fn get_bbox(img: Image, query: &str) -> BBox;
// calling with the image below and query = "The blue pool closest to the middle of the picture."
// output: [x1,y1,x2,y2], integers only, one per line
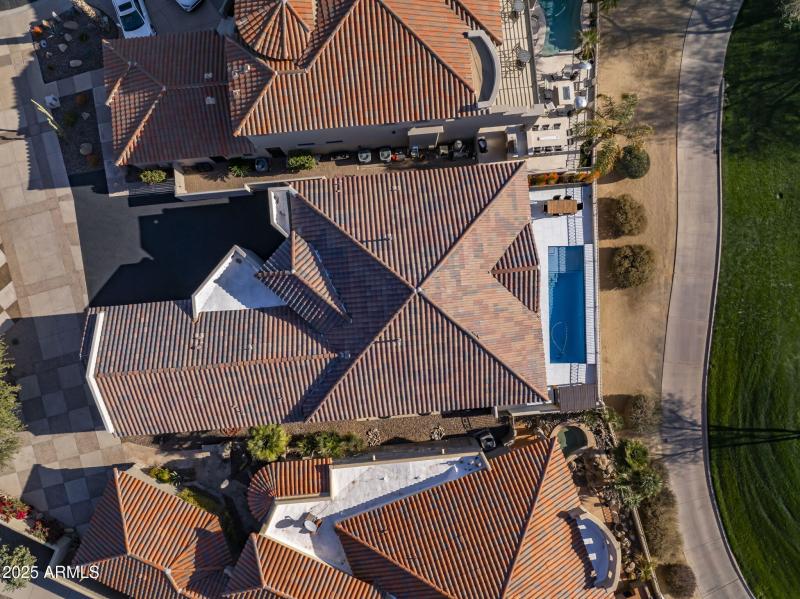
[545,245,598,369]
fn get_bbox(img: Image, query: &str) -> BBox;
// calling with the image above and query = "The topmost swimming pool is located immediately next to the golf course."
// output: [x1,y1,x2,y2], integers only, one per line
[541,0,585,55]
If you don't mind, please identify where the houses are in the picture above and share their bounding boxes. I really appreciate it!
[78,161,549,438]
[67,436,617,599]
[99,0,545,169]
